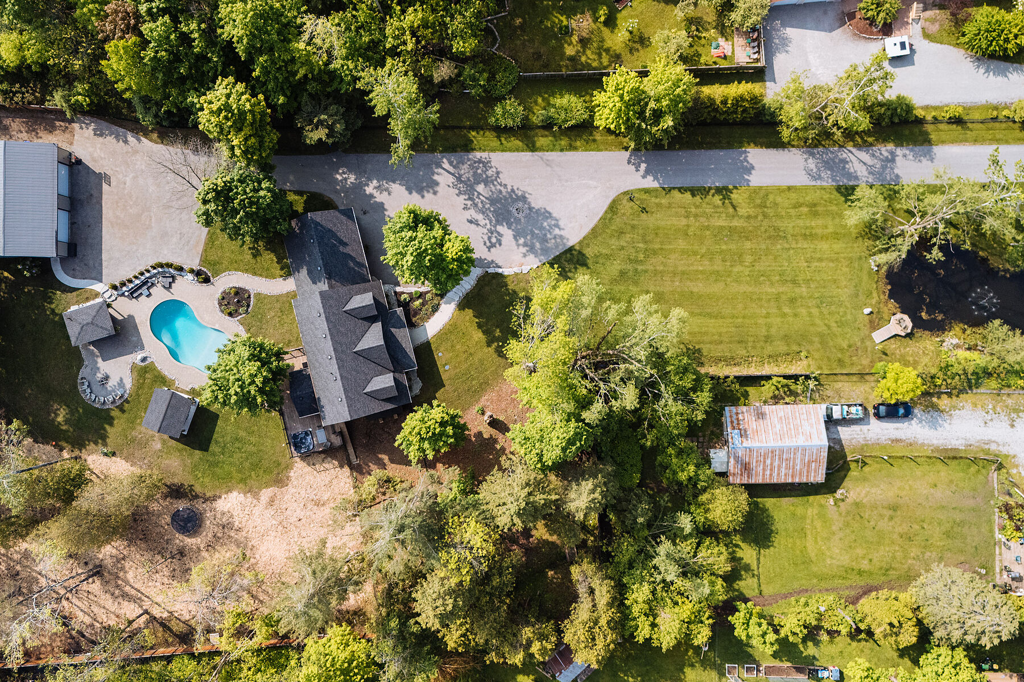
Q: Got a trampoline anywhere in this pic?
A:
Yes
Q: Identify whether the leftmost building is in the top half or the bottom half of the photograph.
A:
top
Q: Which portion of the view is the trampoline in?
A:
bottom left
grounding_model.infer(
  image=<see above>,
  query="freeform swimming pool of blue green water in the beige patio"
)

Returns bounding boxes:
[147,297,235,376]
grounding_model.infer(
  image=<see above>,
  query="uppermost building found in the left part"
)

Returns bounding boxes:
[0,139,71,258]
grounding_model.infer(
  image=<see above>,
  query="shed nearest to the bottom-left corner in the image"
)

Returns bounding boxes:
[143,387,200,438]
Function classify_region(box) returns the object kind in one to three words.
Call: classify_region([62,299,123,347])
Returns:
building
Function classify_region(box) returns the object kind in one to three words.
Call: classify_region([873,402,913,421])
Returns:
car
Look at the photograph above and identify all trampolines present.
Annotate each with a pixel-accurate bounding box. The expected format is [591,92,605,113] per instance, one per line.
[171,506,203,536]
